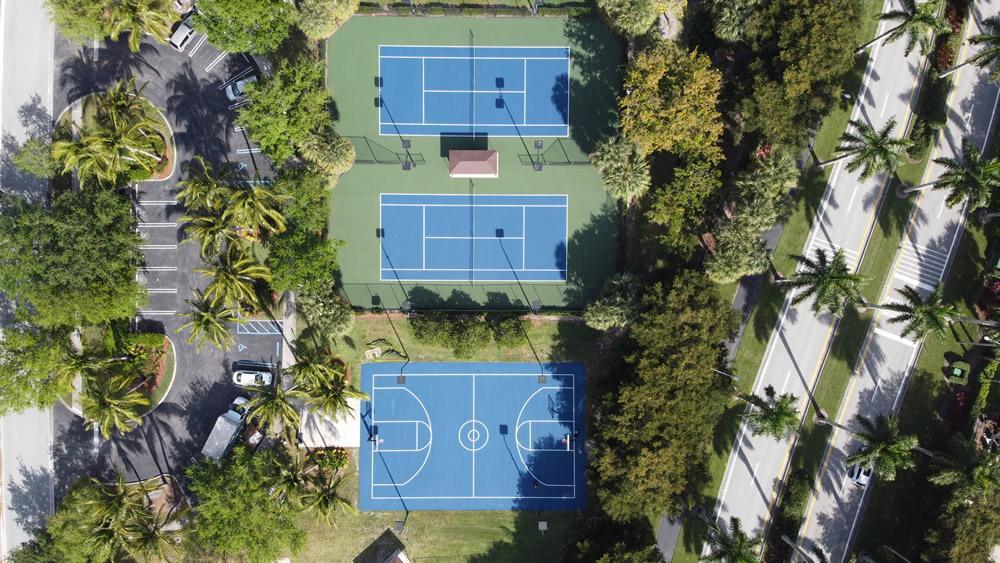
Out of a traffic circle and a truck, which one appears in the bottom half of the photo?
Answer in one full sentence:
The feature located in the bottom half of the photo is a truck.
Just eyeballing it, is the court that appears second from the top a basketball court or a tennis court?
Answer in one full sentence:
The court that appears second from the top appears to be a tennis court.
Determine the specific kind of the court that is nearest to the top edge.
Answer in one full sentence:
It looks like the court that is nearest to the top edge is a tennis court.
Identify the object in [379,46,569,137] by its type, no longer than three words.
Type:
tennis court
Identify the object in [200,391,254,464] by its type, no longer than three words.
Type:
truck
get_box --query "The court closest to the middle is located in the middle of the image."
[380,193,567,282]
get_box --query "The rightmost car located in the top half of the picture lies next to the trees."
[223,69,258,101]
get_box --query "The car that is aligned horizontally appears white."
[232,373,271,391]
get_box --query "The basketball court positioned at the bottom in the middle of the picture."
[359,362,586,510]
